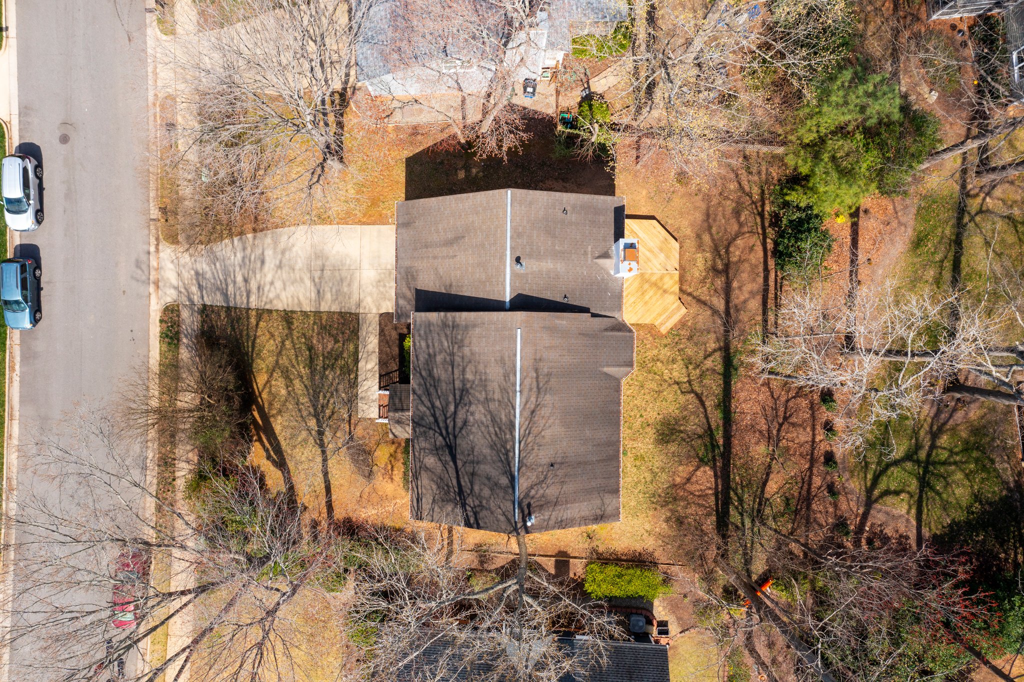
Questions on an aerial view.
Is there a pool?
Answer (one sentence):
No, there appears to be no pool in this shot.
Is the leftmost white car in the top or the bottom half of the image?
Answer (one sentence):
Seen from above, the leftmost white car lies in the top half of the view.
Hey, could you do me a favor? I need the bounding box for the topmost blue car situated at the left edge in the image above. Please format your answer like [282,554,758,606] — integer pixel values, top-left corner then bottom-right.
[0,258,42,331]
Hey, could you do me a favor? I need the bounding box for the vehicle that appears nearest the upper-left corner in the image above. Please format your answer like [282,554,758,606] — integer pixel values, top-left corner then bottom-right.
[0,154,43,232]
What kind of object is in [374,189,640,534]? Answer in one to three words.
house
